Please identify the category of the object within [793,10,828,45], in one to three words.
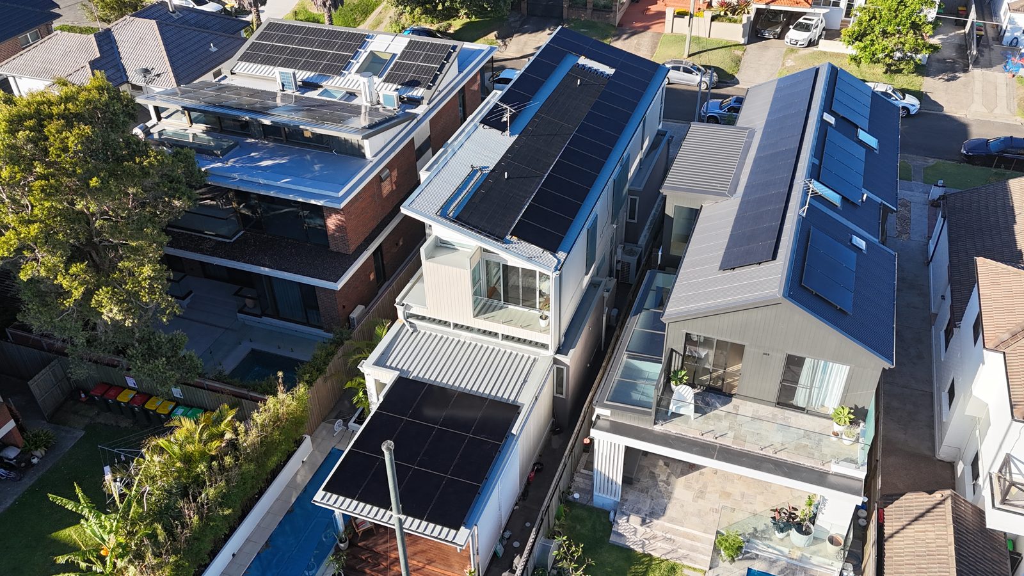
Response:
car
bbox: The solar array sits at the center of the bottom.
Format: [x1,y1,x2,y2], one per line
[328,371,520,524]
